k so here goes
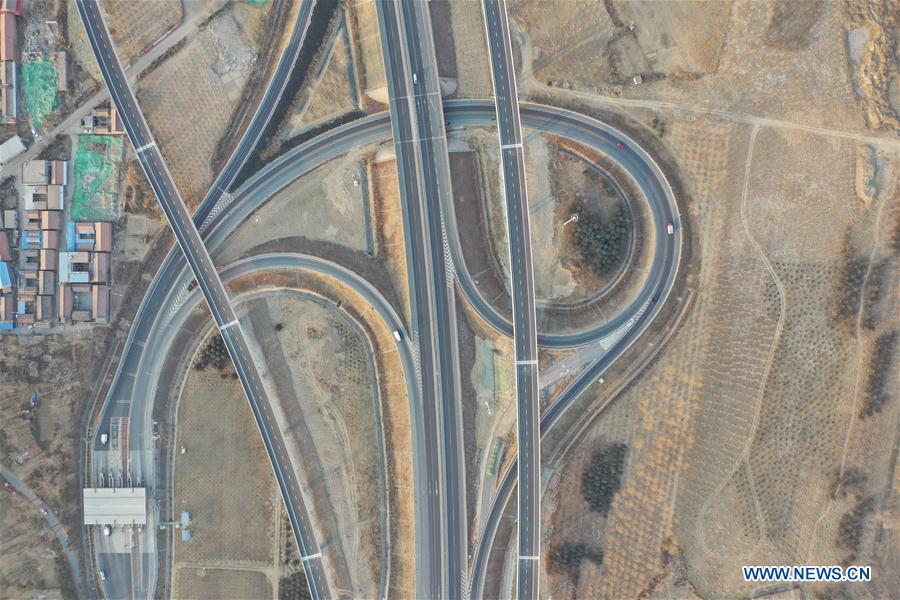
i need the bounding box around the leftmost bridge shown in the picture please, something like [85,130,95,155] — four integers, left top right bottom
[74,0,334,600]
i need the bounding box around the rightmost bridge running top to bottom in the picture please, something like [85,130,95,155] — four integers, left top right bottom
[482,0,541,600]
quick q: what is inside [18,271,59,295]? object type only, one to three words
house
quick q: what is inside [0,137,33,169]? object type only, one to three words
building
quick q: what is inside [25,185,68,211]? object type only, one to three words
house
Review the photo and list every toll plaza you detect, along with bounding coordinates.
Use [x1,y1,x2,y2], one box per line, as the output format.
[83,469,147,532]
